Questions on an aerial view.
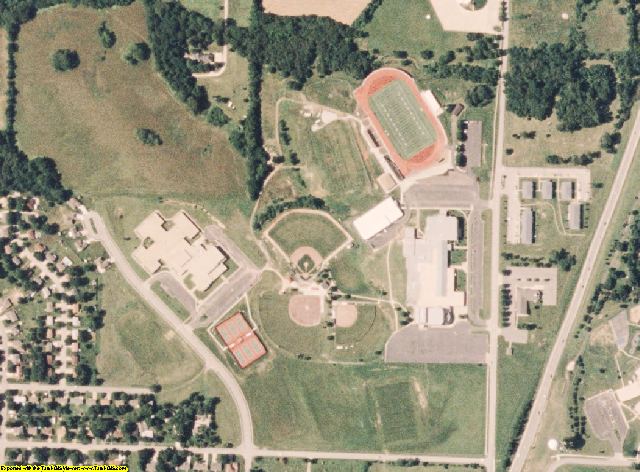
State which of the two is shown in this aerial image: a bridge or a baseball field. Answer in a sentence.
Visible in the photo is a baseball field.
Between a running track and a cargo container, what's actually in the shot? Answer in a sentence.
The one in the frame is a running track.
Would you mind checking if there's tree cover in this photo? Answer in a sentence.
Yes, there's tree cover in this view.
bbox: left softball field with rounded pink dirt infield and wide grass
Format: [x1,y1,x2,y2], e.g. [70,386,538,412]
[256,294,330,358]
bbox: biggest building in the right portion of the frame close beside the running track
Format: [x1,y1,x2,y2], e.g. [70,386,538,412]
[404,209,466,324]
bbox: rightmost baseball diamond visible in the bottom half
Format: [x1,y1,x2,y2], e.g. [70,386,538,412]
[335,303,376,343]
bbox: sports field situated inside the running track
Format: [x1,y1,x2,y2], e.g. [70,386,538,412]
[366,78,439,162]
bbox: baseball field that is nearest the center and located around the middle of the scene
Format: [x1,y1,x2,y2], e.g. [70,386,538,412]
[264,209,354,280]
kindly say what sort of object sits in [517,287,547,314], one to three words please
building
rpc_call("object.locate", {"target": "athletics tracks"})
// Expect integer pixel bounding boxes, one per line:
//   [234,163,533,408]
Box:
[346,65,448,183]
